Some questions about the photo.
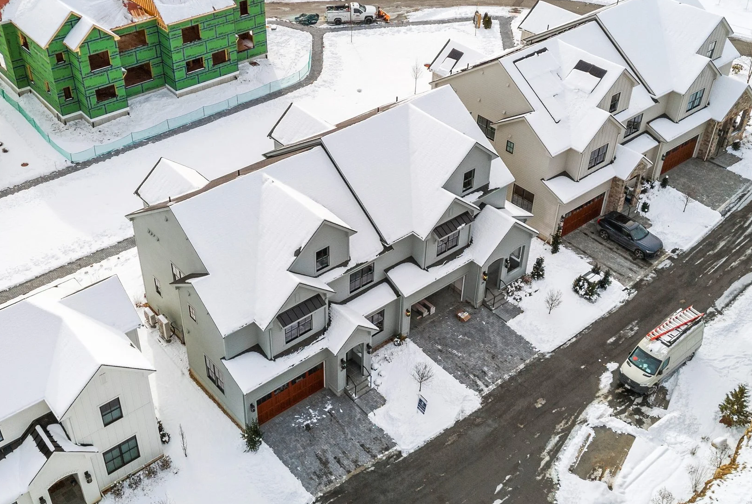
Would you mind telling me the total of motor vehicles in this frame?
three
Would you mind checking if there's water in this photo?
No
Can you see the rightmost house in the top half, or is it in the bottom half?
top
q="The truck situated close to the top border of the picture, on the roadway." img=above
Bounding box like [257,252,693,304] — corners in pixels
[329,2,388,25]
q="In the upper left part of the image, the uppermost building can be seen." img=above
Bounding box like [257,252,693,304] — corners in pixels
[0,0,269,127]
